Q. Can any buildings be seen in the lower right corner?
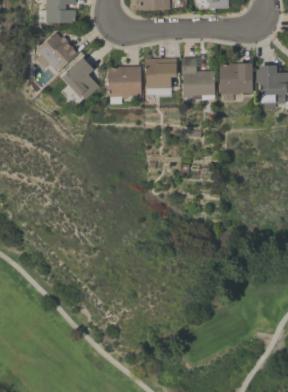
No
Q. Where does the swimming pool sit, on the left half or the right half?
left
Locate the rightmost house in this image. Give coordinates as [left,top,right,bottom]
[256,66,288,108]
